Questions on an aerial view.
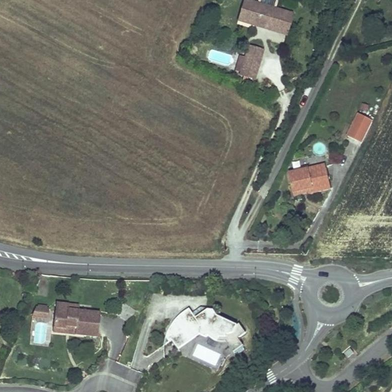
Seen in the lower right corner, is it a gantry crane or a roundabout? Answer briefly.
roundabout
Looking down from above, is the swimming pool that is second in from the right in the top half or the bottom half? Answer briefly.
top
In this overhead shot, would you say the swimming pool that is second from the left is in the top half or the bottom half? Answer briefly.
bottom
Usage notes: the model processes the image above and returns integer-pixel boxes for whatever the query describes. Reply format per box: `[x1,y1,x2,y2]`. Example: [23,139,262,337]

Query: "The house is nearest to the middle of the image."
[287,162,330,198]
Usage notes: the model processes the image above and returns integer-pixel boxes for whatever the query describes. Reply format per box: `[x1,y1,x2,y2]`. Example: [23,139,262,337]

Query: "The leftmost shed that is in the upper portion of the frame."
[235,44,264,80]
